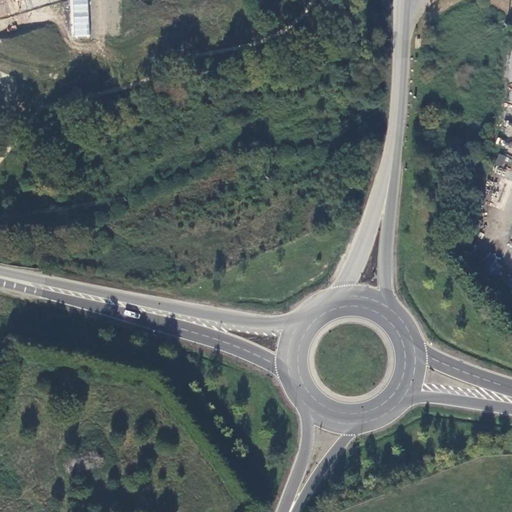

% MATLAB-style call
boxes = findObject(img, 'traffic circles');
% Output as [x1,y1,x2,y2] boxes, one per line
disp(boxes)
[276,284,426,434]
